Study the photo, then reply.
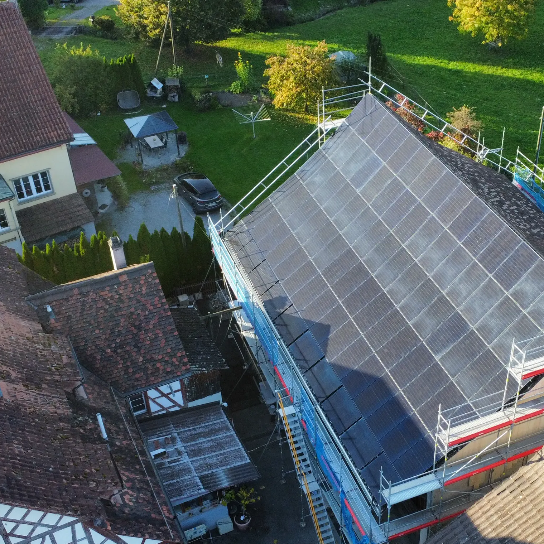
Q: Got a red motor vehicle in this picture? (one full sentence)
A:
No, I can see no red motor vehicle in this picture.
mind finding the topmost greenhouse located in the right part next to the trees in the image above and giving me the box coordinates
[330,48,359,83]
